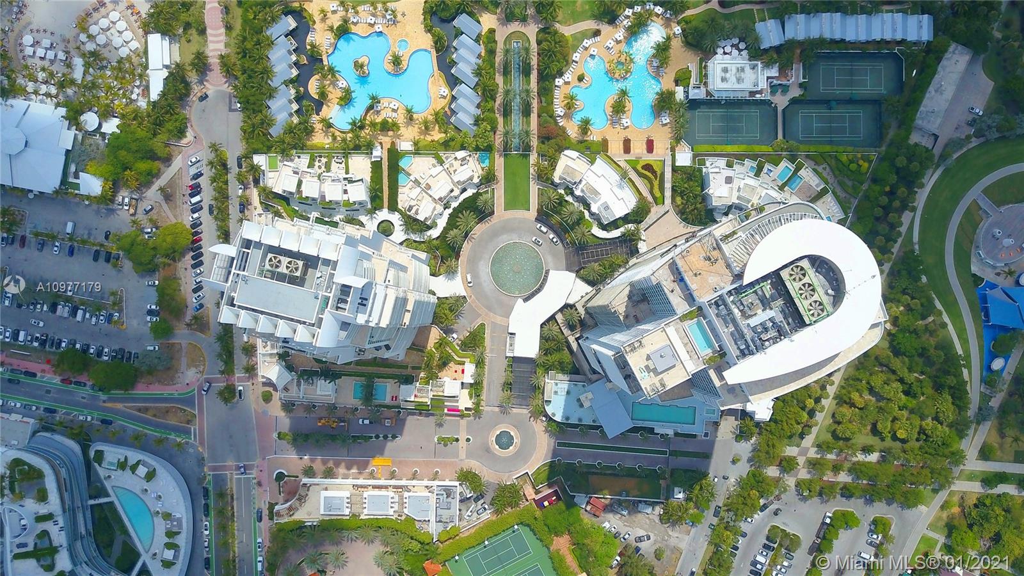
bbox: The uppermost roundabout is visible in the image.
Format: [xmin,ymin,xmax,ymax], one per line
[459,213,563,325]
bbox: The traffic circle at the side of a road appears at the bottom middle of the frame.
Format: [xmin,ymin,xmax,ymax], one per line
[463,399,547,484]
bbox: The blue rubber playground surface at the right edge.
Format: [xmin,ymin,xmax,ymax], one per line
[976,272,1024,389]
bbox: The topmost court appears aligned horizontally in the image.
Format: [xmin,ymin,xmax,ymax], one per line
[805,52,904,99]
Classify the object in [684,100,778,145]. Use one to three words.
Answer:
tennis court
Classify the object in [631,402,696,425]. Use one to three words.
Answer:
swimming pool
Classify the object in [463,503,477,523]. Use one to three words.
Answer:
vehicle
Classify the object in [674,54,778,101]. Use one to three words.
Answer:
building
